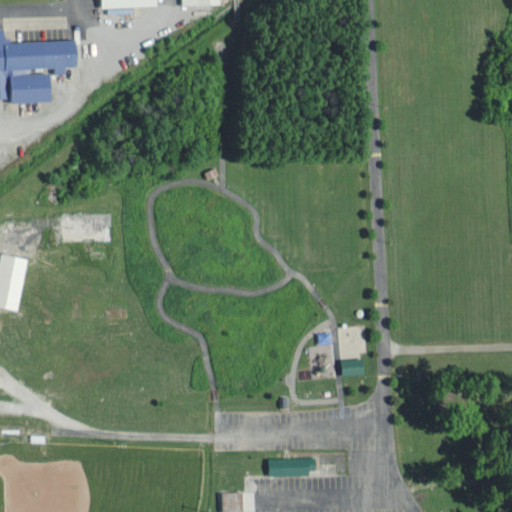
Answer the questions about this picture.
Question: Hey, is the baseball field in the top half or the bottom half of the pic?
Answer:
bottom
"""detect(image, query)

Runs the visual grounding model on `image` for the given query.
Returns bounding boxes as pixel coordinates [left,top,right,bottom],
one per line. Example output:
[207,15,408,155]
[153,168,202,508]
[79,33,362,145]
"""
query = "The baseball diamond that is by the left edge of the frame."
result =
[0,455,90,512]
